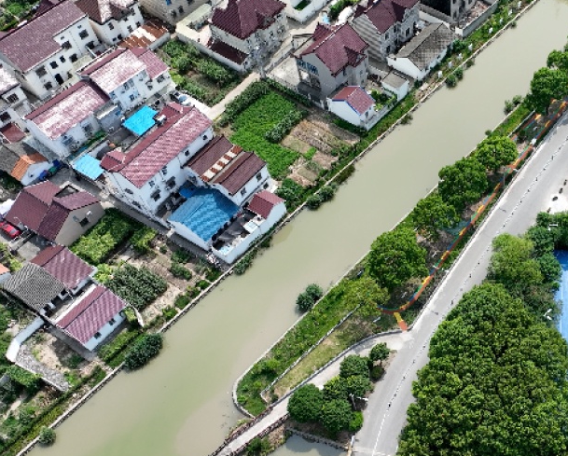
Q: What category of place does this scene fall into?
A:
residential area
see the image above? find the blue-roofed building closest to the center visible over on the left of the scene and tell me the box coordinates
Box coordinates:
[168,181,245,251]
